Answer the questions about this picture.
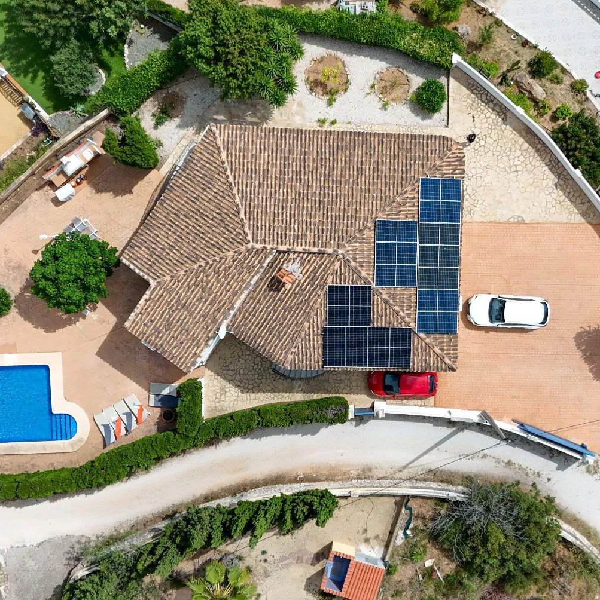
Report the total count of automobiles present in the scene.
2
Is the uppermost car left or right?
right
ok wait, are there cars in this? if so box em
[464,292,547,331]
[367,370,436,404]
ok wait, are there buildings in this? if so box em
[119,121,465,377]
[315,532,386,600]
